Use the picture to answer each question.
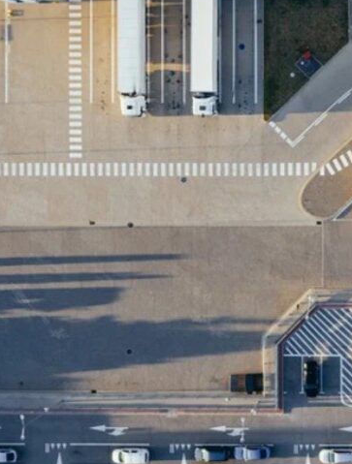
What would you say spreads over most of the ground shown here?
paved ground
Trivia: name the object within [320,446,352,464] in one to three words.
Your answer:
car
